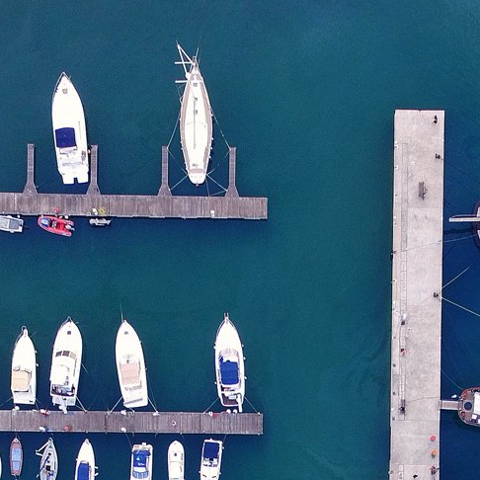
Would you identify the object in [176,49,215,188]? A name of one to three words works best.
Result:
boat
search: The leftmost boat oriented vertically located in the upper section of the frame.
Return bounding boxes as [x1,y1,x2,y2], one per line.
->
[50,67,89,185]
